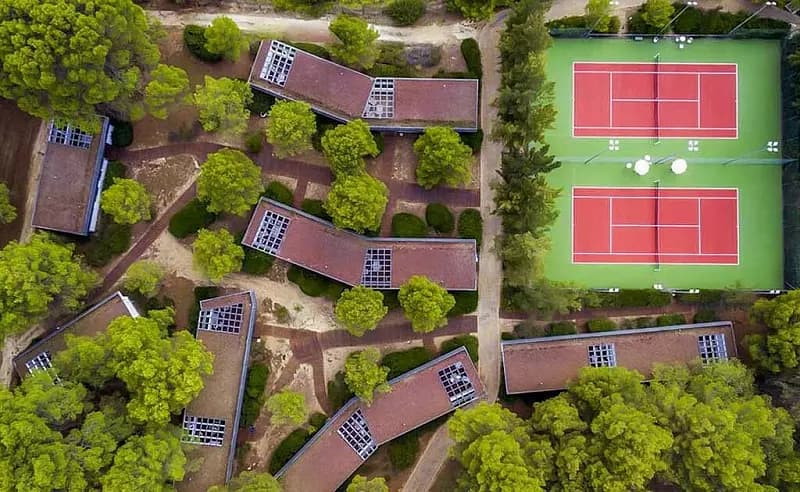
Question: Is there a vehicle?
No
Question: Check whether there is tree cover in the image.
Yes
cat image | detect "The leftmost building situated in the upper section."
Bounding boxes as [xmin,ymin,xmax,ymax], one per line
[31,105,111,236]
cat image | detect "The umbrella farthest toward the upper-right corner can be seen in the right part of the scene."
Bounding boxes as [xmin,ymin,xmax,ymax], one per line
[669,159,686,173]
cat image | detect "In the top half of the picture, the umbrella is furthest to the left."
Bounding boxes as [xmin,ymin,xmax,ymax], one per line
[633,159,648,174]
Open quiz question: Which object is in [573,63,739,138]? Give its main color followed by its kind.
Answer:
red tennis court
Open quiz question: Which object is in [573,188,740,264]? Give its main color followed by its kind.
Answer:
red tennis court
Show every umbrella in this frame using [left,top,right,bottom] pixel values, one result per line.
[633,159,648,174]
[669,159,686,173]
